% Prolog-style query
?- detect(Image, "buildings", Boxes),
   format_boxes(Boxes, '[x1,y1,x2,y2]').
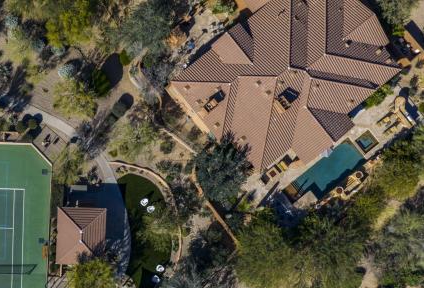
[55,207,107,264]
[167,0,403,173]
